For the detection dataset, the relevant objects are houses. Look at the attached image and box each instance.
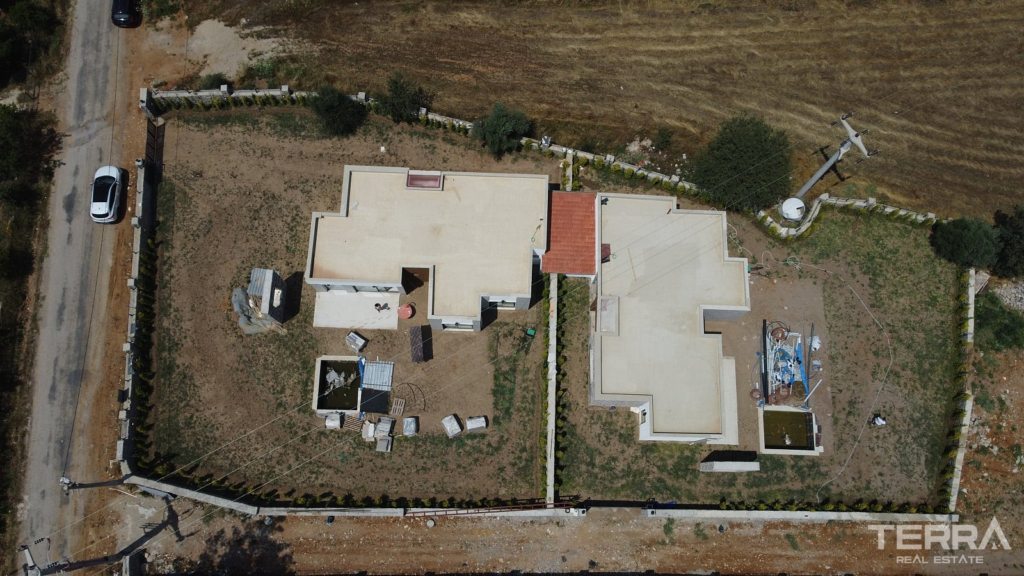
[306,166,548,330]
[583,194,750,445]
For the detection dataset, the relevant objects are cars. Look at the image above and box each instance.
[108,0,137,23]
[88,167,123,222]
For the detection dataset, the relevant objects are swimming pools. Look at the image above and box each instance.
[757,406,821,456]
[313,356,362,412]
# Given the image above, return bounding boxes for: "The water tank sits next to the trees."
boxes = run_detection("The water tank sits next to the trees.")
[782,198,815,229]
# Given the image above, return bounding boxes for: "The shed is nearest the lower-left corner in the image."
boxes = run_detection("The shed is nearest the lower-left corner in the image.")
[242,268,286,323]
